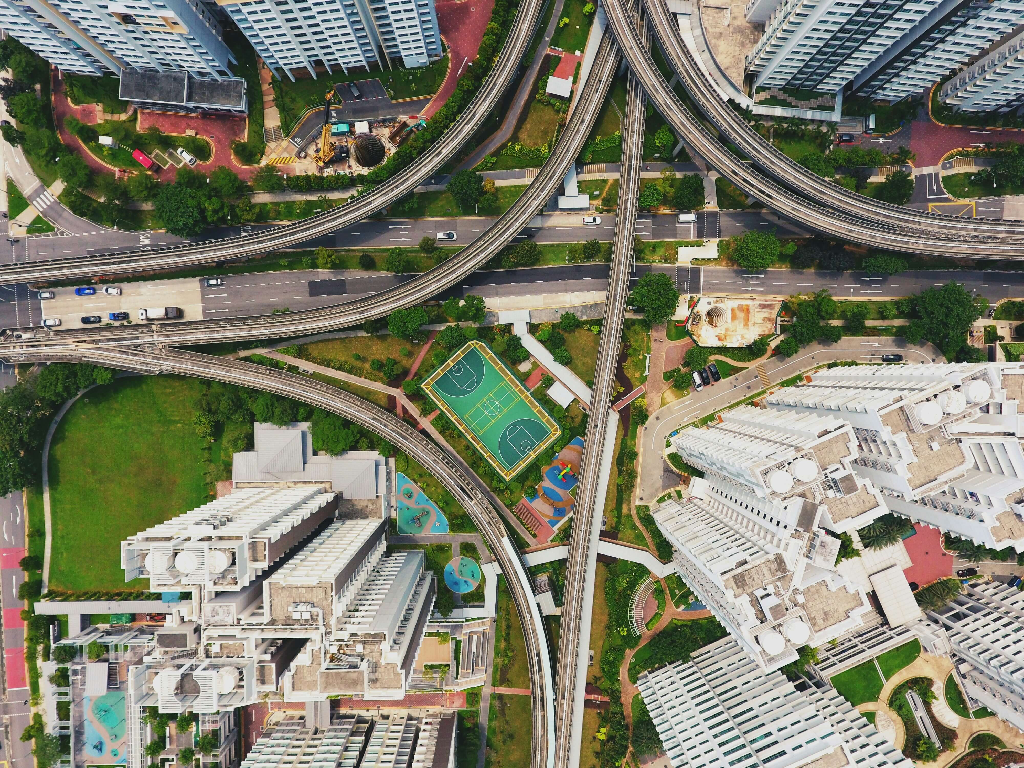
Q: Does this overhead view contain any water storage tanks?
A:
Yes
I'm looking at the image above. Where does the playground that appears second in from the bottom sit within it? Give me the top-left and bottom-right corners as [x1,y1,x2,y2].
[443,556,482,594]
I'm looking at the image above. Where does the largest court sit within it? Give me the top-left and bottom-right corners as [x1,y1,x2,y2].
[419,334,563,486]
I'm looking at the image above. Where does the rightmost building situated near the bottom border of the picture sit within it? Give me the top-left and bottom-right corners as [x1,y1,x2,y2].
[921,566,1024,741]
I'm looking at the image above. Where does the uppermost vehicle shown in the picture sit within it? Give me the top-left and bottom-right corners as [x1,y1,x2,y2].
[347,79,361,100]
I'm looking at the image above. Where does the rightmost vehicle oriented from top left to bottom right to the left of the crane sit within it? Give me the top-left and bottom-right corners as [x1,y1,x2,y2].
[175,148,195,164]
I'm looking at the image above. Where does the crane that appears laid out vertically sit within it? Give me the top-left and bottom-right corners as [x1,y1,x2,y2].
[312,84,349,172]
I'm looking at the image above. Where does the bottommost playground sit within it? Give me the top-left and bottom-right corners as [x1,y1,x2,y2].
[85,692,126,764]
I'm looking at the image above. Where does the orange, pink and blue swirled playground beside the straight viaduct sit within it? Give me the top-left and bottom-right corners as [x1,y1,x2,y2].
[524,437,585,528]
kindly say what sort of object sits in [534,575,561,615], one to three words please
shed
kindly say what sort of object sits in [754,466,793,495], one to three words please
water tank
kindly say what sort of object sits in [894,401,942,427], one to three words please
water tank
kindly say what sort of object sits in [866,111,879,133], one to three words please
vehicle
